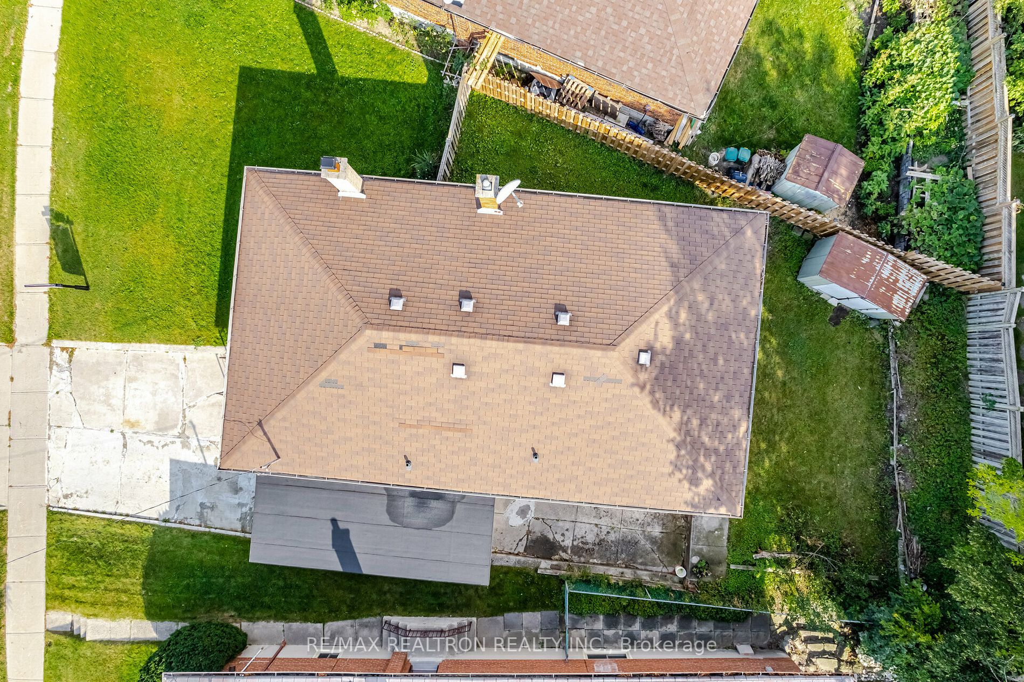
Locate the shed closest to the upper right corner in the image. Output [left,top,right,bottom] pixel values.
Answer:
[774,134,863,215]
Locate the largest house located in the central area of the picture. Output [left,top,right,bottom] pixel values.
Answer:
[219,157,769,518]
